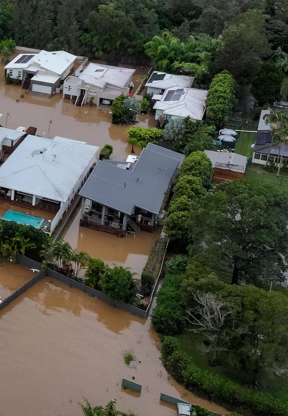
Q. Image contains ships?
No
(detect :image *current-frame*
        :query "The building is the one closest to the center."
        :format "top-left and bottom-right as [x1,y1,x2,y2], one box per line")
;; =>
[77,143,187,246]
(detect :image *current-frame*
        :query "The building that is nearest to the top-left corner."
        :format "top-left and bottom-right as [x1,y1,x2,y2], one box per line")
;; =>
[4,49,77,97]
